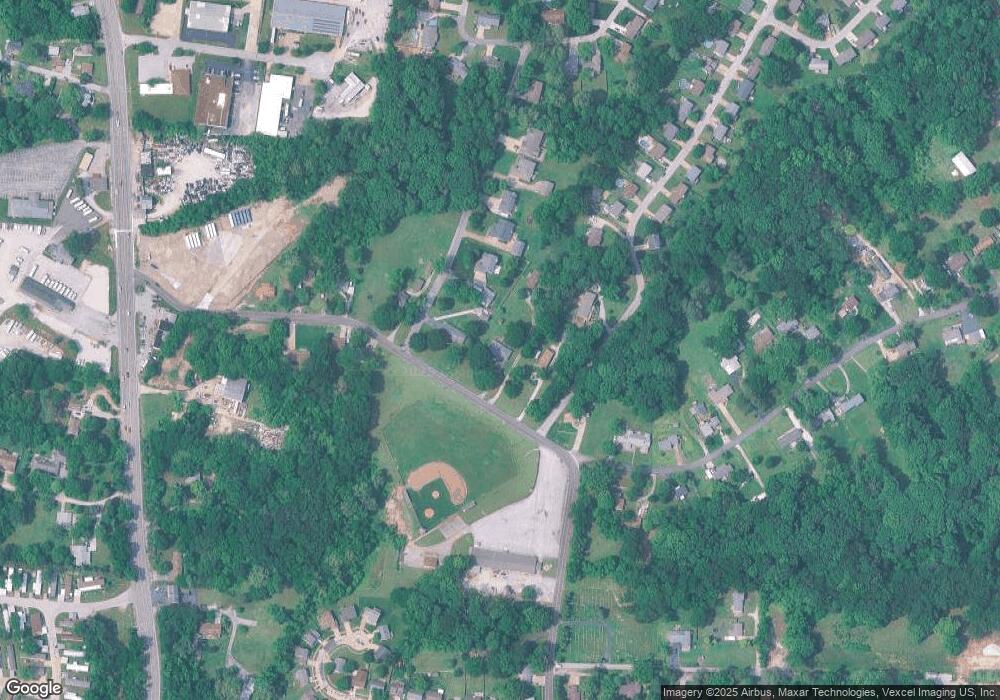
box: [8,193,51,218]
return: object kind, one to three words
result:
building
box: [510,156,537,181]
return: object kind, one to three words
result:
house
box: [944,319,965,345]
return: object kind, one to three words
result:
house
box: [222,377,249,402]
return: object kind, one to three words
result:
building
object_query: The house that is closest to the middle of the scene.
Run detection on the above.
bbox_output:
[488,338,514,364]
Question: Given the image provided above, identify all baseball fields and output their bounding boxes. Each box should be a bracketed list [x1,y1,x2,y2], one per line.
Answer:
[385,400,517,533]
